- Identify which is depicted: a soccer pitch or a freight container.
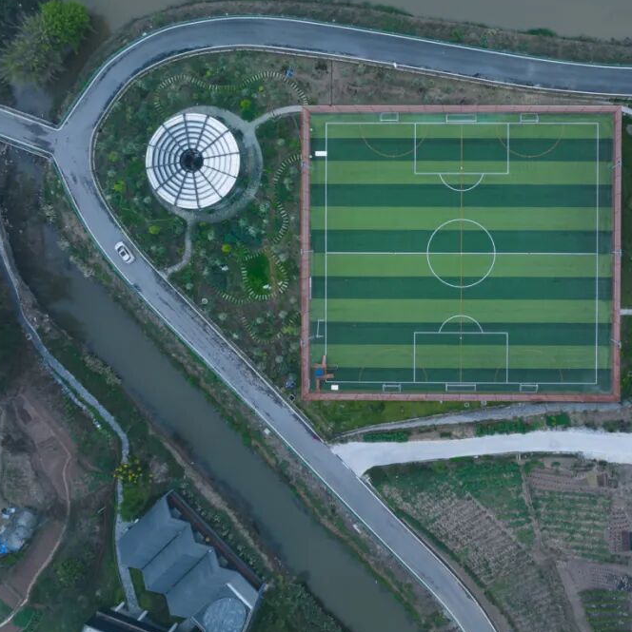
soccer pitch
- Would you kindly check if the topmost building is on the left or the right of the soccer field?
left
